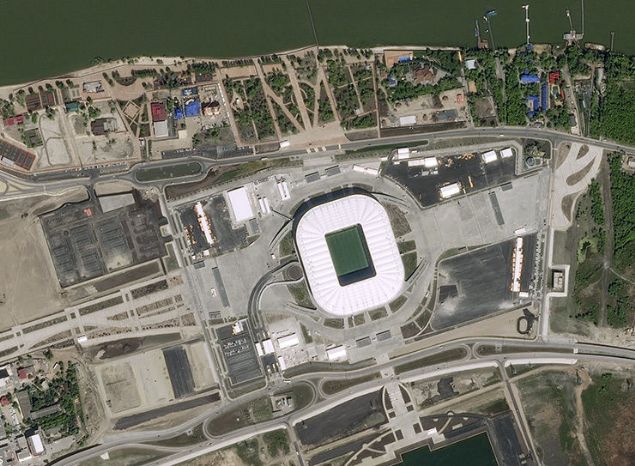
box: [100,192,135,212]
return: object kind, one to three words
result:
building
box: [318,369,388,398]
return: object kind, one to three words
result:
roundabout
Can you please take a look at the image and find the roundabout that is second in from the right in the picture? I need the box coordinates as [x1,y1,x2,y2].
[392,344,469,375]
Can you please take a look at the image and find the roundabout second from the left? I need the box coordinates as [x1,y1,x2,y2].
[203,379,316,440]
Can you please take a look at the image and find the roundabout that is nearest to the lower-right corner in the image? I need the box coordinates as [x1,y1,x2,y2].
[471,344,580,359]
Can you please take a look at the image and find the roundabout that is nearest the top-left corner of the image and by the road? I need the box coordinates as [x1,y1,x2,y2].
[130,156,206,187]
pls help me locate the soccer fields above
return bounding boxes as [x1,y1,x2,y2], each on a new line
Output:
[329,226,373,285]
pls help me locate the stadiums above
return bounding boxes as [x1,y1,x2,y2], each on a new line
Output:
[299,195,406,316]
